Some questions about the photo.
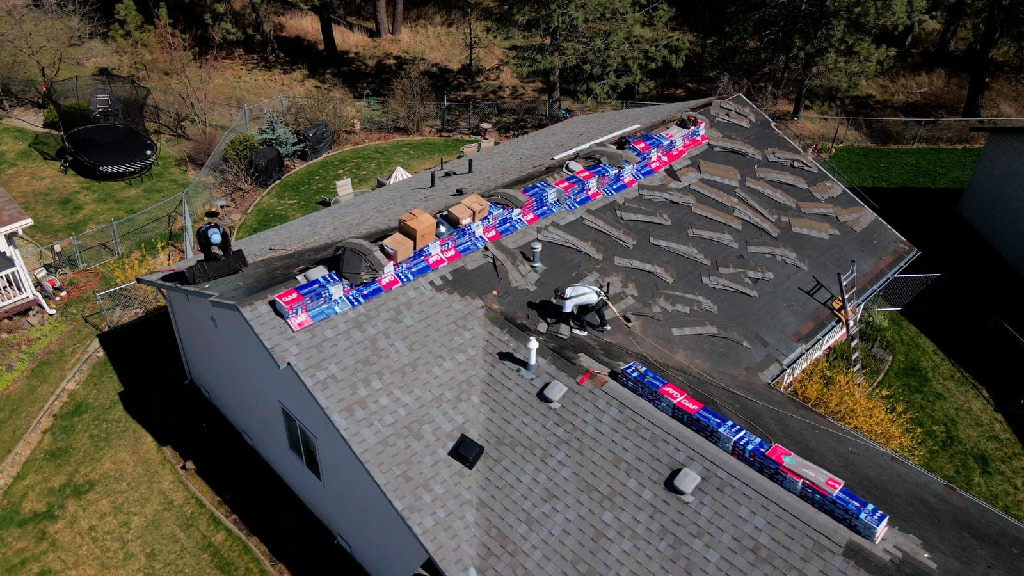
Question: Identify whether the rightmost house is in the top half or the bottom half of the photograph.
top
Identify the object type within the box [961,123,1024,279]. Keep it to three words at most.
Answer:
house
